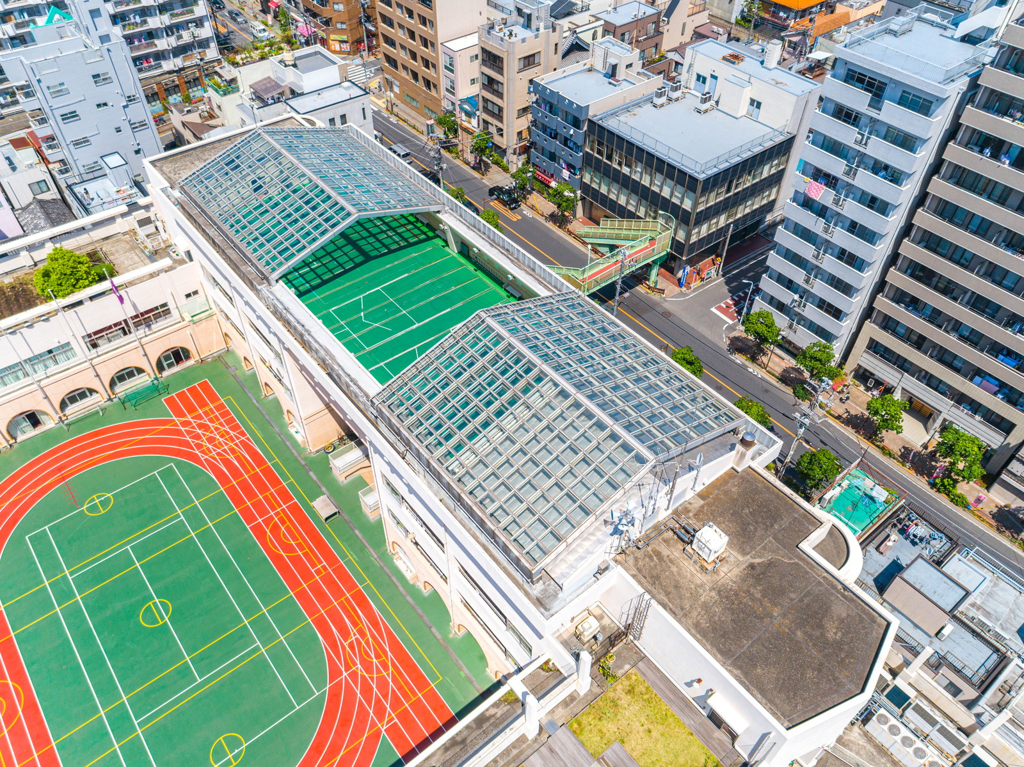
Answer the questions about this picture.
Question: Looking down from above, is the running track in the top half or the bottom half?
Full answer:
The running track is in the bottom half of the image.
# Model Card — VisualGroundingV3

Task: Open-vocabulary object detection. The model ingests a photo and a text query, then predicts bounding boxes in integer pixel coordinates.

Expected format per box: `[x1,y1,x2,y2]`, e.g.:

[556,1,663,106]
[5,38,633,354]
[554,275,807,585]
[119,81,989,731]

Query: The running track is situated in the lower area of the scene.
[0,381,458,767]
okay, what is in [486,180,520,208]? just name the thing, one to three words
car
